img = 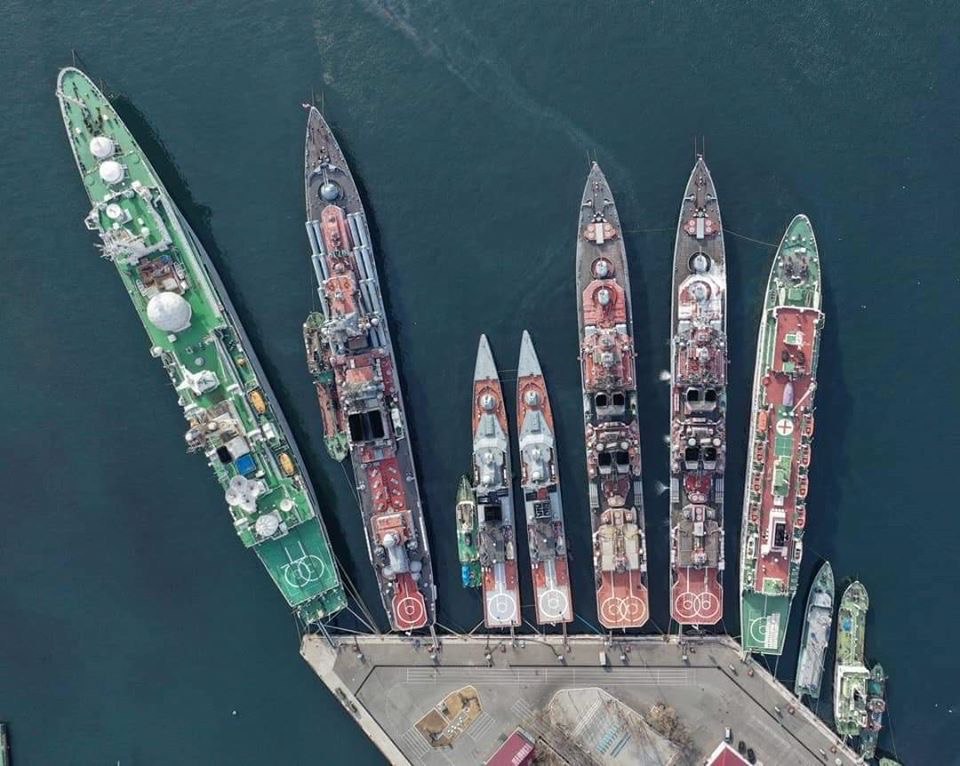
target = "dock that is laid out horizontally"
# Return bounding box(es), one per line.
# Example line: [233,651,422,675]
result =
[299,631,867,766]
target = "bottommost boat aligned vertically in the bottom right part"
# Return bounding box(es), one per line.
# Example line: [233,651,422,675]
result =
[859,663,886,760]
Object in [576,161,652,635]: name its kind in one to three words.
ship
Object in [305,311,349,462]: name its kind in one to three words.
boat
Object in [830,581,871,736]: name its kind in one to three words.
boat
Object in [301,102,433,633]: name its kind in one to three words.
vessel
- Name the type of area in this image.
port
